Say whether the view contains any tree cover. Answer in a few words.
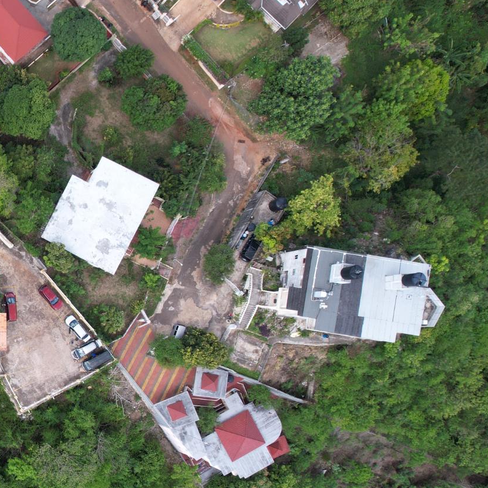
Yes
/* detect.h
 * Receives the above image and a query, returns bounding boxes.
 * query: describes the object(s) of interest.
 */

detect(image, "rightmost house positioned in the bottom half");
[264,245,444,343]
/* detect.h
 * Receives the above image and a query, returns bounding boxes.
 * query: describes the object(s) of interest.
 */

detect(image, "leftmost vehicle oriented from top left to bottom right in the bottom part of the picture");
[38,282,63,313]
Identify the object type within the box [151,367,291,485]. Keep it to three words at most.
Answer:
house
